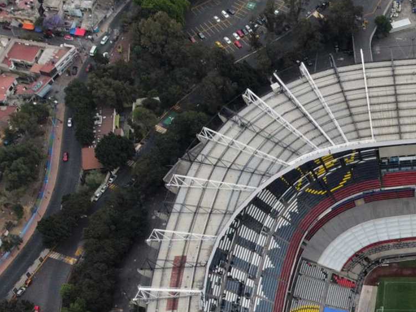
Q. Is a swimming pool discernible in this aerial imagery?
No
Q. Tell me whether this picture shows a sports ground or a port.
sports ground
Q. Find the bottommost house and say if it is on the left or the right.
left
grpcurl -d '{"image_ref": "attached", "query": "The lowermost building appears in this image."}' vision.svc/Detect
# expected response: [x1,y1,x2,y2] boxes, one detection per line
[81,147,105,176]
